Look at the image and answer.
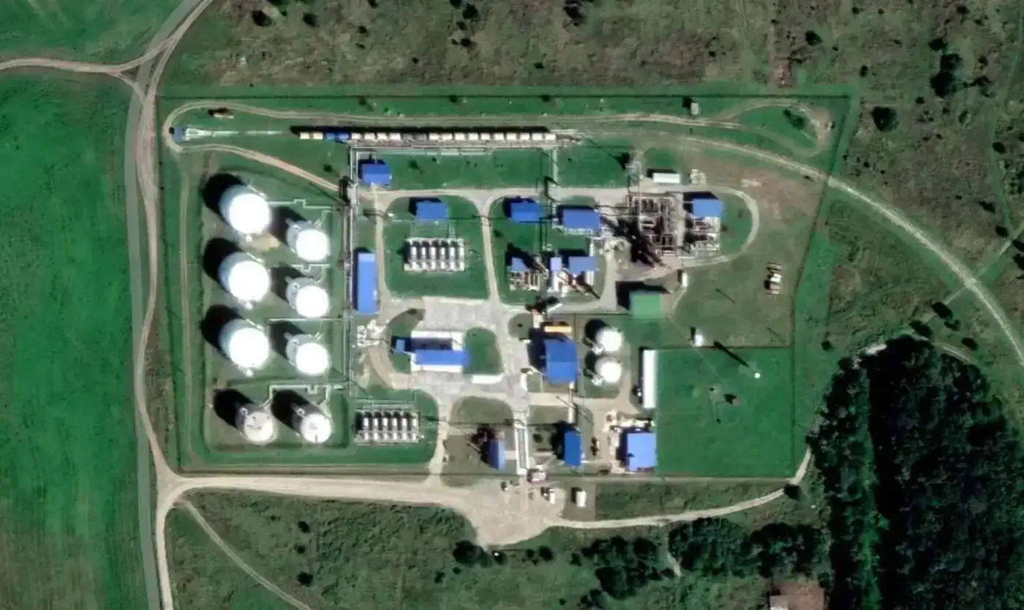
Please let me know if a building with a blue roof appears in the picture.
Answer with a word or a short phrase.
Yes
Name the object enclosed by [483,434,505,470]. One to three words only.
building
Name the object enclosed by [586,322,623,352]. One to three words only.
water tank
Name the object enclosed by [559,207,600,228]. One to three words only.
house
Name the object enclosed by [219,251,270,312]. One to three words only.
storage tank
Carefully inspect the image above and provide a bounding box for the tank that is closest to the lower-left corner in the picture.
[232,400,274,443]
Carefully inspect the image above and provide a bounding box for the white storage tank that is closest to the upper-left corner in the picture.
[220,182,270,243]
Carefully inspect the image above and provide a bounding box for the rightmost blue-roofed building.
[687,195,722,217]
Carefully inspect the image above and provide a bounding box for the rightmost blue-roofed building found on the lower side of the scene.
[623,429,657,472]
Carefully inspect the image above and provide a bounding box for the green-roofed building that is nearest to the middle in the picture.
[626,288,664,317]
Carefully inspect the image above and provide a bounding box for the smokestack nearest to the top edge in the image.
[572,275,602,298]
